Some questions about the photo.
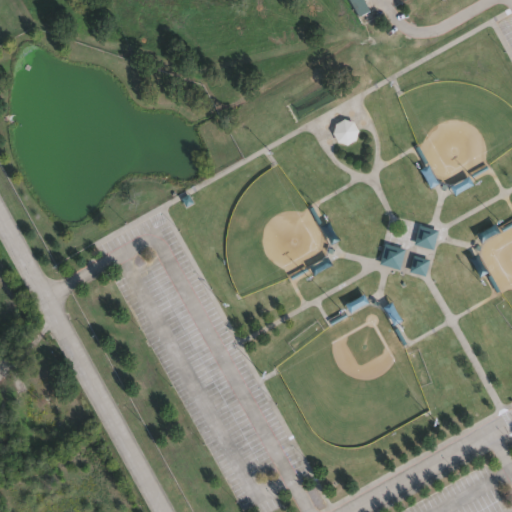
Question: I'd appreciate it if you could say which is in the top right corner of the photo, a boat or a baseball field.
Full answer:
There is a baseball field in the top right corner of the photo.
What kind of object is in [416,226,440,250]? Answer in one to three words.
building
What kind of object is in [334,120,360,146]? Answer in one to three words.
gazebo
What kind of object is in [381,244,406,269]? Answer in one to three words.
building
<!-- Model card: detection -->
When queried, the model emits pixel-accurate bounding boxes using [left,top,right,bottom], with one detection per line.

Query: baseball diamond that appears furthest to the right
[481,226,512,308]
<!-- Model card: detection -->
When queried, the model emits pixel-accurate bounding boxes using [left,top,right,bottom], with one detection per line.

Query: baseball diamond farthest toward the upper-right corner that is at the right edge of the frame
[401,81,512,186]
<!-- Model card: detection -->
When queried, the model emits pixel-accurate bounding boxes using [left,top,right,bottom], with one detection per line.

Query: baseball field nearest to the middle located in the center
[227,166,328,298]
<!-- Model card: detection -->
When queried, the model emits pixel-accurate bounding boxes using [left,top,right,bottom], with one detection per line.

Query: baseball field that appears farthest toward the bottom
[279,303,428,446]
